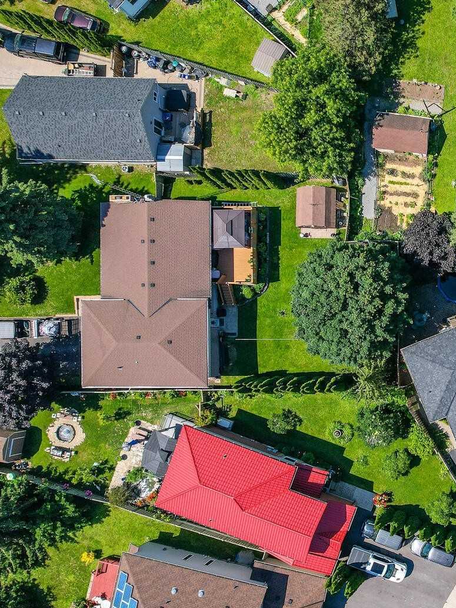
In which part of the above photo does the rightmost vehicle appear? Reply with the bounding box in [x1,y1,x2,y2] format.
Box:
[409,537,456,570]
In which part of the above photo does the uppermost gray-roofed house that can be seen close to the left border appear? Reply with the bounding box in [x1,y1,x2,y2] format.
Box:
[3,75,170,169]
